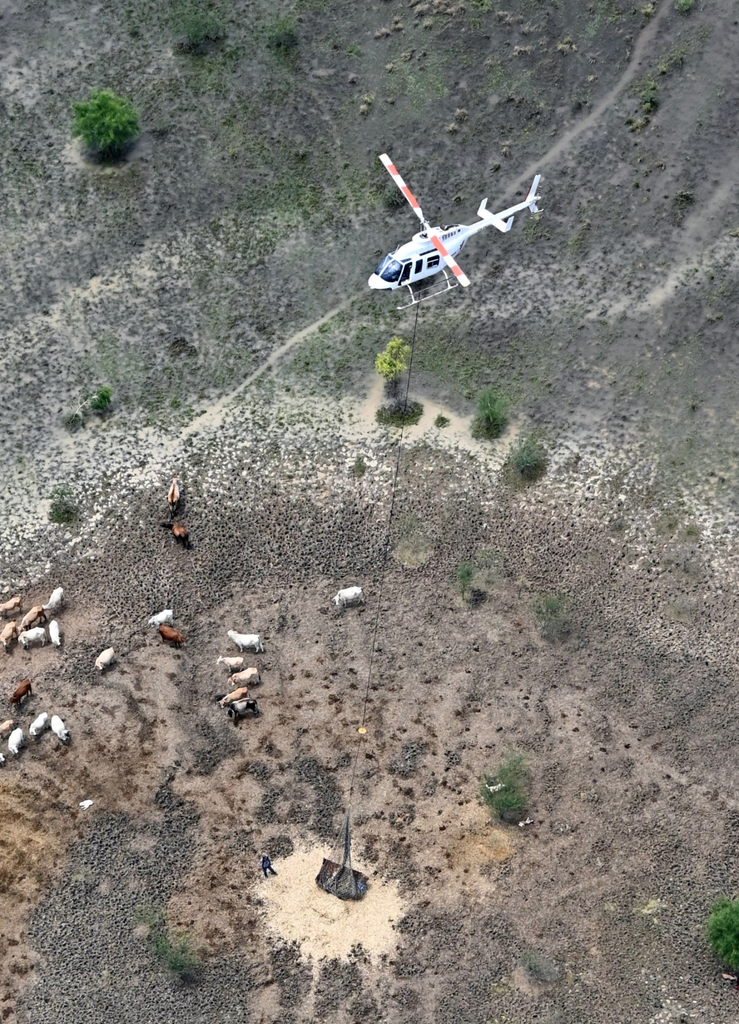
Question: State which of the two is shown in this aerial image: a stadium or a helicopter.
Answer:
helicopter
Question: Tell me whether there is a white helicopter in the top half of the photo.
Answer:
Yes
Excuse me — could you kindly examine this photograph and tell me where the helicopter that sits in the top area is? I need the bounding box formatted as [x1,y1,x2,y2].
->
[366,154,543,309]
